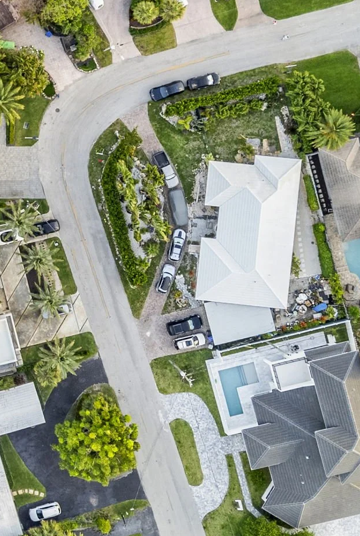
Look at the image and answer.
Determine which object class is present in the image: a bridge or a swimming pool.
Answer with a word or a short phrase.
swimming pool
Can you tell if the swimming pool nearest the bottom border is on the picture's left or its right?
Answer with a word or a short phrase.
right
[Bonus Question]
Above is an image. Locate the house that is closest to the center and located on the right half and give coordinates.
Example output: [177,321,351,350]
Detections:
[192,155,302,345]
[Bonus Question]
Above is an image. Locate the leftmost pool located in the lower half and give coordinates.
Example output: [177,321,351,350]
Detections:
[218,363,259,416]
